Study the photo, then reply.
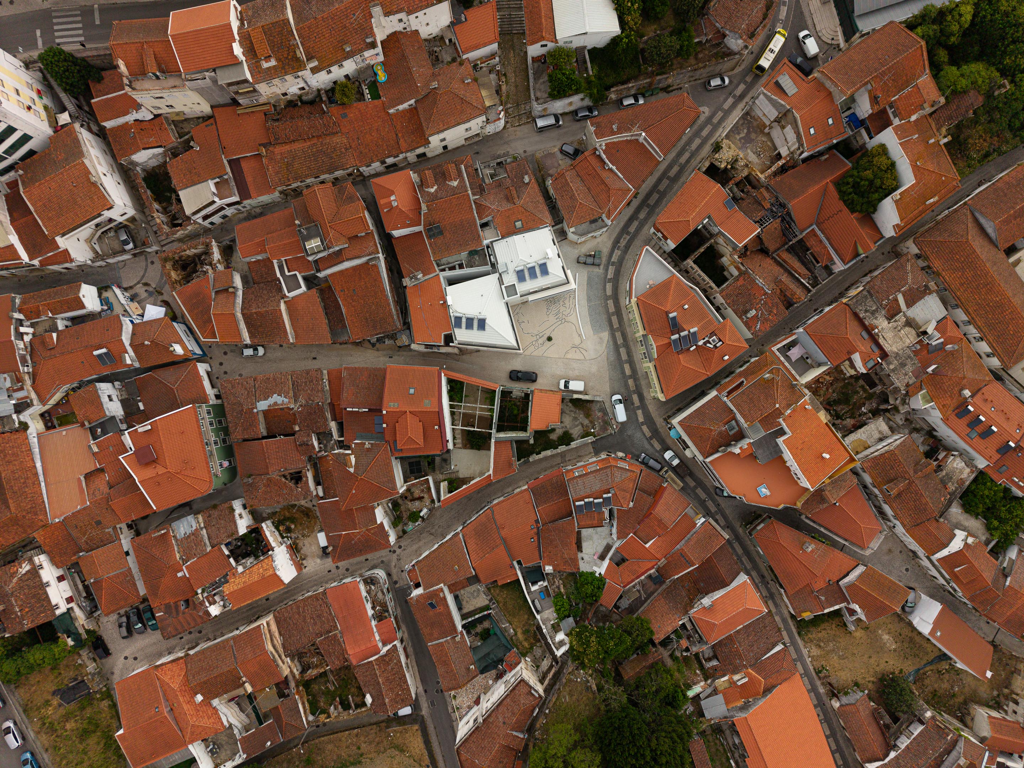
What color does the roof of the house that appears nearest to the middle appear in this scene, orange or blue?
orange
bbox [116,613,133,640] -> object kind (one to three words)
car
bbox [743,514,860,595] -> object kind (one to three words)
house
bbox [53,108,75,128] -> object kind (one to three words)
umbrella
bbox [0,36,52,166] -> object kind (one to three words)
building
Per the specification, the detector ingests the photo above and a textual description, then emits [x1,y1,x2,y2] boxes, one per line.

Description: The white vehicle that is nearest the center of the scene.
[558,378,585,390]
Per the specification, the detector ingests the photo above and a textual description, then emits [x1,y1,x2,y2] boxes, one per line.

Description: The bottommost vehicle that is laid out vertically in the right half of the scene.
[611,394,627,422]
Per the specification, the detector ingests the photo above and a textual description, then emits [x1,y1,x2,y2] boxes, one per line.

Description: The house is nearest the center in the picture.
[530,388,562,431]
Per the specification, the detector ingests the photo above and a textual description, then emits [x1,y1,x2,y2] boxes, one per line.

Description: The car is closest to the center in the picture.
[509,369,538,383]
